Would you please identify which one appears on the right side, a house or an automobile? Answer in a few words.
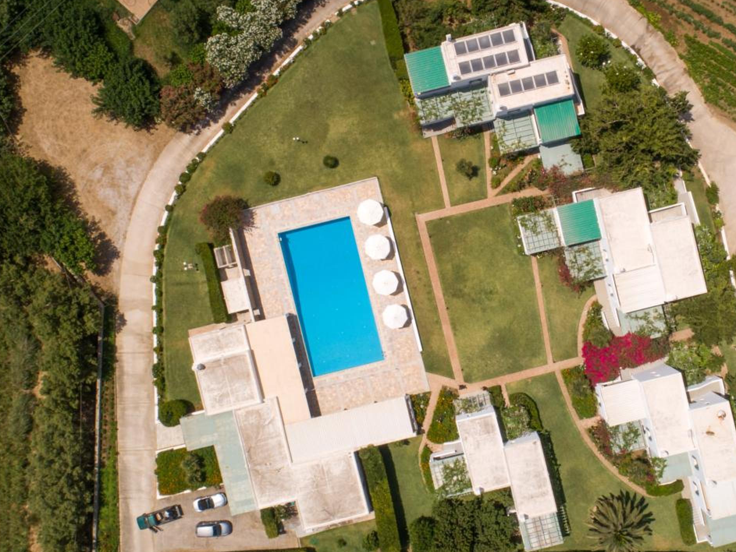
house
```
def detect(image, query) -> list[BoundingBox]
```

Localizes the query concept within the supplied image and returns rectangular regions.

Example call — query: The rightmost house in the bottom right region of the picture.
[593,358,736,547]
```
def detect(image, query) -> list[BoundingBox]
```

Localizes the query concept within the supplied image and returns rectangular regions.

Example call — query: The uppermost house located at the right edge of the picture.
[551,179,707,336]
